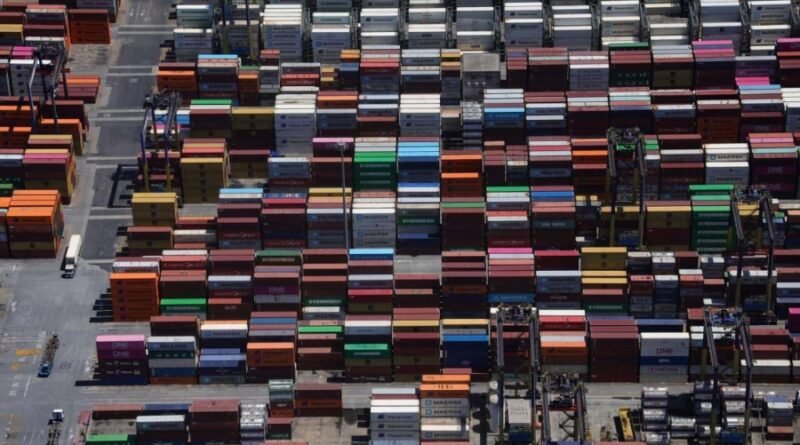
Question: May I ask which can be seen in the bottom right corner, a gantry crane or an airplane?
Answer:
gantry crane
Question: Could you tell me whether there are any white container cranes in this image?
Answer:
No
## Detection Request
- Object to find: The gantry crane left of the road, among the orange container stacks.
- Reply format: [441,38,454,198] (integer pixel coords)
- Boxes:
[23,41,77,134]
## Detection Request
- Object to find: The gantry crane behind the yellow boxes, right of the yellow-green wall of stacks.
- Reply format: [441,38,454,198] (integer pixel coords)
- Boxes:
[600,130,649,252]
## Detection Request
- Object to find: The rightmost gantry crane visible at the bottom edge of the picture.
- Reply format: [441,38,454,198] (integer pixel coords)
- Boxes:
[696,307,758,445]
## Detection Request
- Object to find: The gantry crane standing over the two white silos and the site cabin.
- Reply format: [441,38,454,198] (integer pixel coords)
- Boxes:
[490,308,539,445]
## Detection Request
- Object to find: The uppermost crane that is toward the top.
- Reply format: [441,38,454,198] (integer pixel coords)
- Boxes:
[219,0,259,66]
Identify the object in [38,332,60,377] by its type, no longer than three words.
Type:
truck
